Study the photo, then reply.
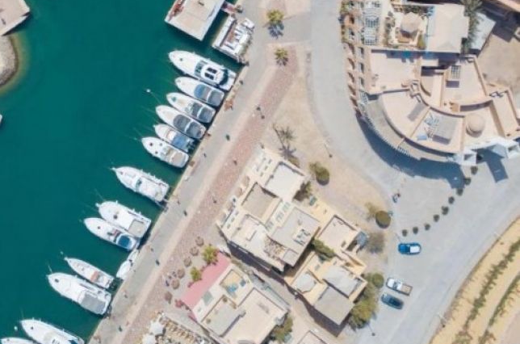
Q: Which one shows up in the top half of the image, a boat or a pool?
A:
boat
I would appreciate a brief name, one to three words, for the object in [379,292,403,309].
car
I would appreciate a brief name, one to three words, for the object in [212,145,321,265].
house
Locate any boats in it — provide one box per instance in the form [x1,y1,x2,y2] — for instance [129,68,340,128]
[83,218,147,258]
[59,255,127,298]
[126,249,138,264]
[141,139,189,171]
[174,77,229,109]
[168,49,240,93]
[47,273,113,317]
[115,260,128,278]
[19,318,89,344]
[155,106,210,143]
[153,124,202,163]
[107,165,184,205]
[0,336,39,344]
[90,199,153,239]
[166,93,216,125]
